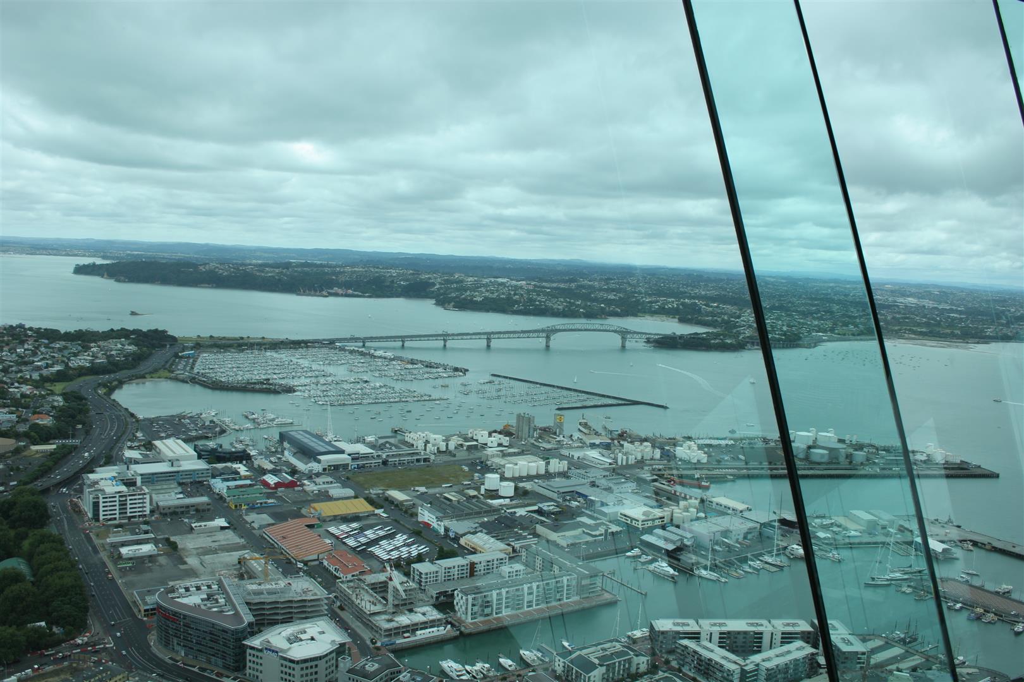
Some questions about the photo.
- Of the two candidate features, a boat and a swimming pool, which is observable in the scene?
boat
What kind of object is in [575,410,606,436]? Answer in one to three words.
ship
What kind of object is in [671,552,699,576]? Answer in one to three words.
shed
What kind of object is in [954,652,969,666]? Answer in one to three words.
boat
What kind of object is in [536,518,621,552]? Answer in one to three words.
building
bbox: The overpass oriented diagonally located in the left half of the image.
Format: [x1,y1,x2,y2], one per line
[6,429,124,513]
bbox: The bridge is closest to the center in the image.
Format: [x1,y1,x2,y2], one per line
[296,322,730,348]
